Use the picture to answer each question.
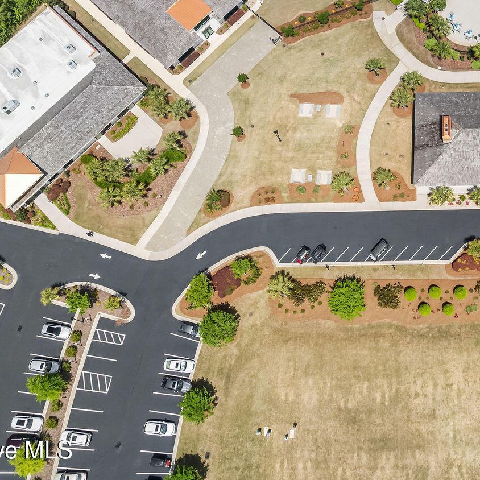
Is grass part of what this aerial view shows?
Yes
